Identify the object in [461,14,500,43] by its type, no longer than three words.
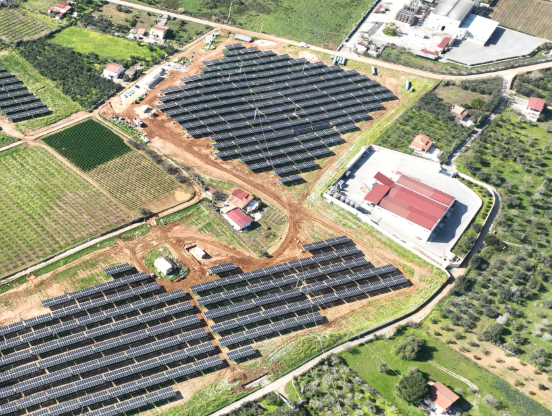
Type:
building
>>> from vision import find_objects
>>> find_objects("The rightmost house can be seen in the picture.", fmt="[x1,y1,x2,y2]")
[521,98,545,123]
